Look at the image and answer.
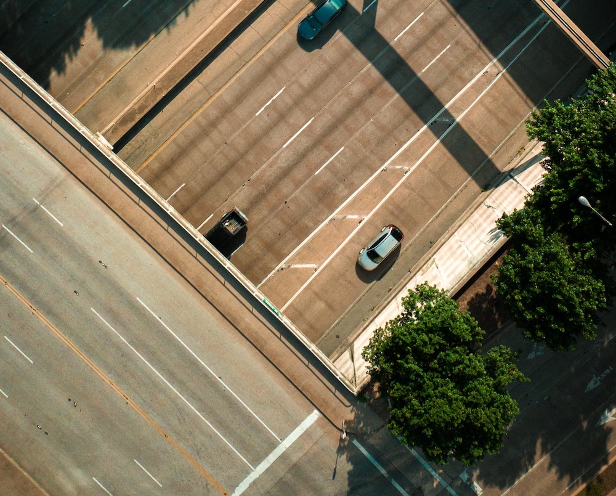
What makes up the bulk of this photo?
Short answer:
paved ground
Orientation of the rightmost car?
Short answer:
diagonally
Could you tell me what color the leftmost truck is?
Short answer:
black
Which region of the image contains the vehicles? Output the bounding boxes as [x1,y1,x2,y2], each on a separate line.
[361,225,405,270]
[199,205,251,256]
[301,0,349,40]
